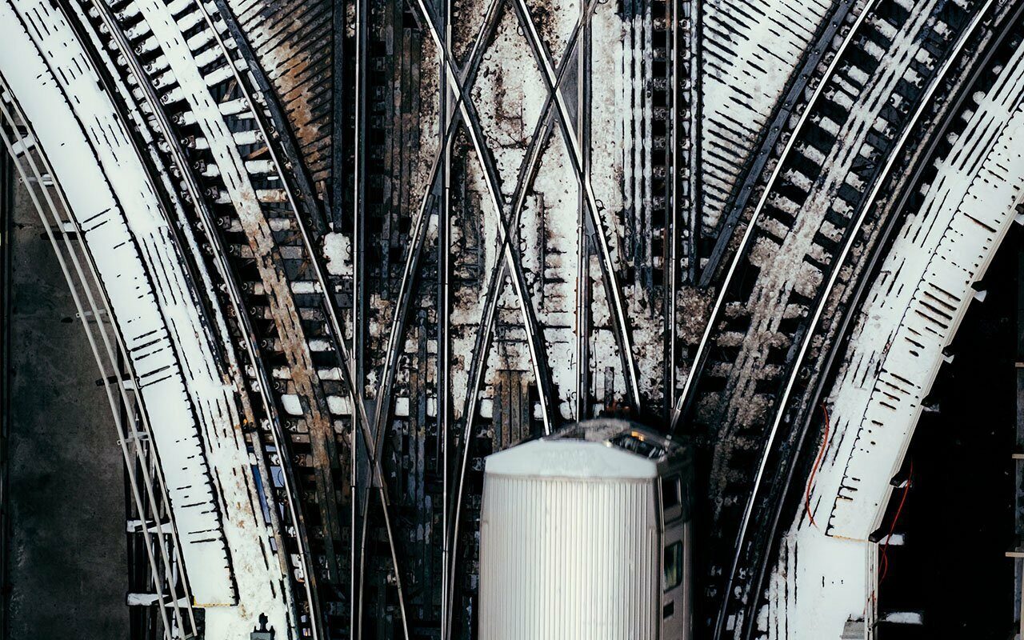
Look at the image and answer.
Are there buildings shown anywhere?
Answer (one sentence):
No, there is no building in the image.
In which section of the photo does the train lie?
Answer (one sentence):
The train appears toward the bottom of the photo.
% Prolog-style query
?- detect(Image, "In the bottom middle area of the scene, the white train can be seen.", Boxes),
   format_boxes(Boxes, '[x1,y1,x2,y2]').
[479,418,695,640]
